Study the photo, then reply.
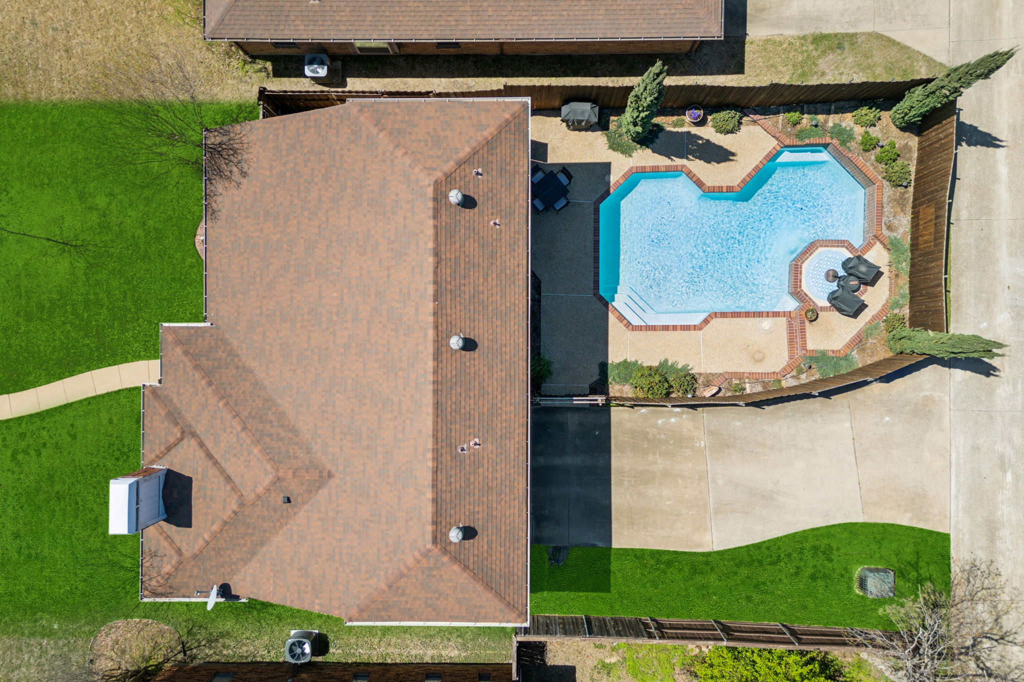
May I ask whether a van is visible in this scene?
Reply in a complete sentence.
No, there's no van here.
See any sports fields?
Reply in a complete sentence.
No, there is no sports field in the image.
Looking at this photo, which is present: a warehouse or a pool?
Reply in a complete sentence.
This aerial view contains a pool.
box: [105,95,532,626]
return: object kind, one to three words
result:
house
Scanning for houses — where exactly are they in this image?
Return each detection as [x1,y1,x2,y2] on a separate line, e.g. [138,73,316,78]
[105,95,532,626]
[202,0,731,55]
[140,661,513,682]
